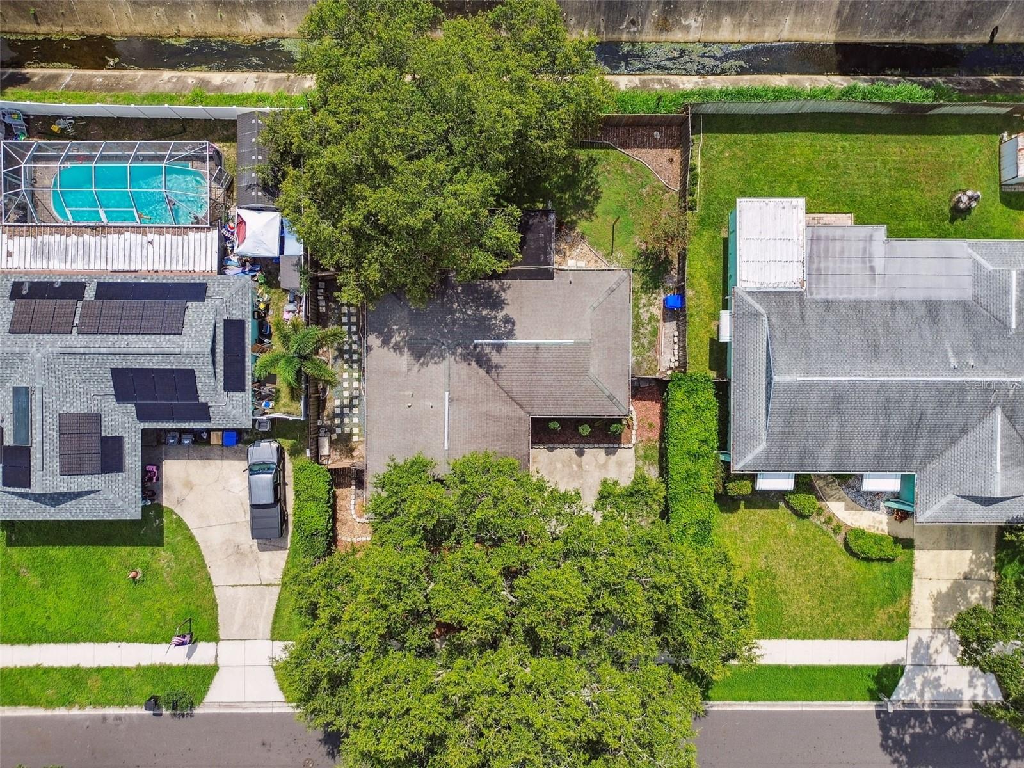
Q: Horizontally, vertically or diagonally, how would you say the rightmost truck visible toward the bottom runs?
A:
vertically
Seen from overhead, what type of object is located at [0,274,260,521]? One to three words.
house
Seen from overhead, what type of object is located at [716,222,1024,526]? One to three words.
house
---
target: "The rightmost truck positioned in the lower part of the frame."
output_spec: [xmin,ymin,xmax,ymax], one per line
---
[242,437,288,539]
